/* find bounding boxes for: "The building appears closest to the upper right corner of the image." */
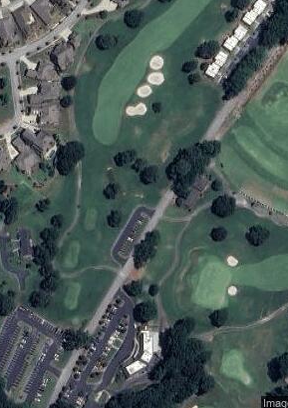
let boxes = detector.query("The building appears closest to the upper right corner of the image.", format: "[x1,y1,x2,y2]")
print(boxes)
[242,0,269,25]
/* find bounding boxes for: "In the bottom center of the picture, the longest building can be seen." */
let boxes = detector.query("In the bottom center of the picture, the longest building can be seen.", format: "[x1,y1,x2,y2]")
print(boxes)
[127,331,161,377]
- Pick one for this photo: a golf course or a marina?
golf course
